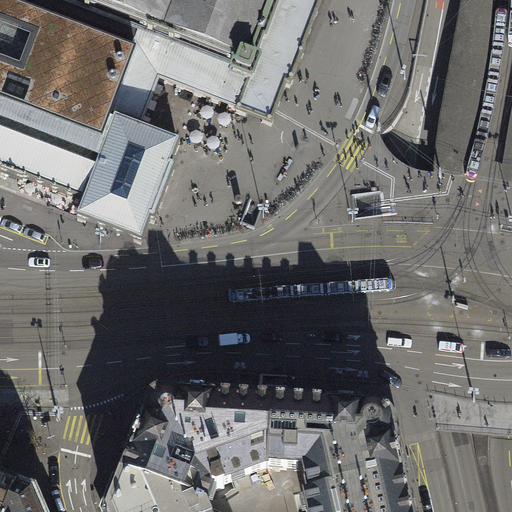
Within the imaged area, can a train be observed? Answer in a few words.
Yes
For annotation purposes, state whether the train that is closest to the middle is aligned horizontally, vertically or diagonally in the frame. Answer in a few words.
horizontally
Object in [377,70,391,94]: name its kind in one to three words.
car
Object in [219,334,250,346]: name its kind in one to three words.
vehicle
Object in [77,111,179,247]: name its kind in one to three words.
building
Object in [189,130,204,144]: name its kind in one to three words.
umbrella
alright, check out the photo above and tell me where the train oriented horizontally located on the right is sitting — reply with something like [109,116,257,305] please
[227,280,396,304]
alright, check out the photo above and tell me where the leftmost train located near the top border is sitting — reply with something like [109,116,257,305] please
[465,9,506,186]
